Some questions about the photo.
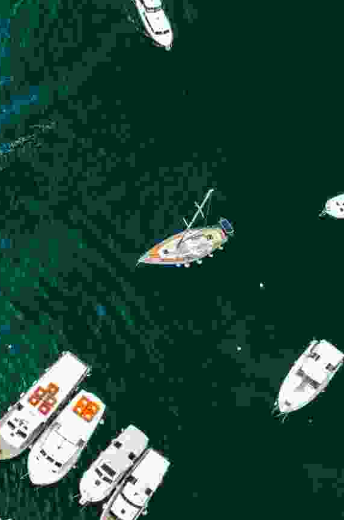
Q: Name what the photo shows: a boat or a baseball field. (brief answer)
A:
boat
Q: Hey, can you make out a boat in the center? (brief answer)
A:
Yes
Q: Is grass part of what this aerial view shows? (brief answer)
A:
No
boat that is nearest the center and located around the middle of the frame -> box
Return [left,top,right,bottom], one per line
[136,197,233,267]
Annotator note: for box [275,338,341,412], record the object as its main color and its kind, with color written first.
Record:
white boat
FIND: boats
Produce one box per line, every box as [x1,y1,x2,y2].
[78,422,150,510]
[322,197,344,219]
[139,0,173,51]
[101,447,171,520]
[0,346,91,457]
[275,338,341,412]
[33,387,108,484]
[136,197,233,267]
